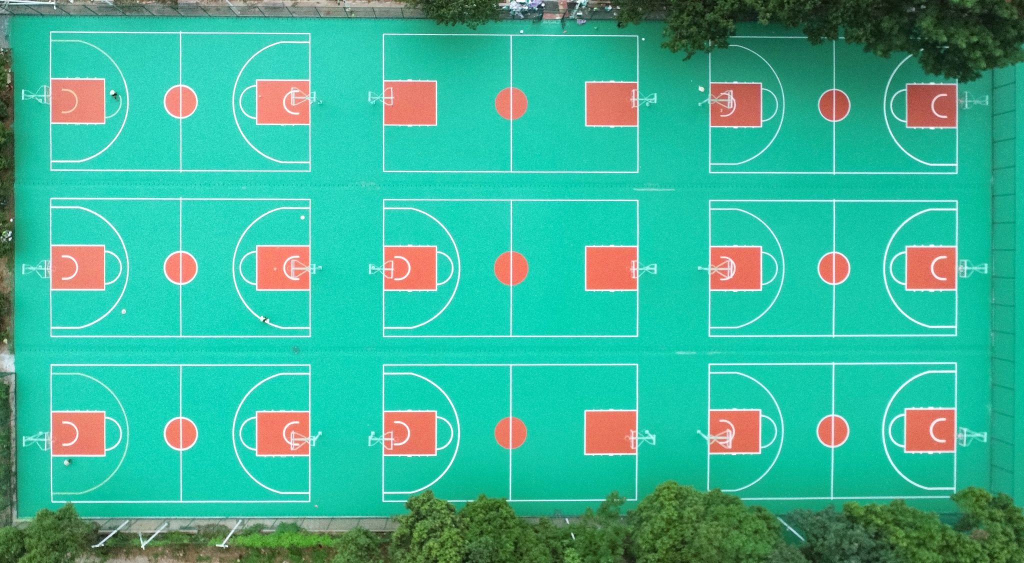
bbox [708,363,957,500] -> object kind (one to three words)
basketball court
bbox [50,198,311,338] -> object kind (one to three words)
basketball court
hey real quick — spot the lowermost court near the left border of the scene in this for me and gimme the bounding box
[51,364,310,503]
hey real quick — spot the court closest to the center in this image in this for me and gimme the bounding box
[383,199,638,337]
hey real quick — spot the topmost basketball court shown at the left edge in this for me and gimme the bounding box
[50,32,311,172]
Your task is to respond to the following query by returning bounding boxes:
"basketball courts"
[708,363,957,500]
[709,200,958,337]
[383,364,638,502]
[50,32,311,172]
[51,364,310,503]
[383,34,638,173]
[709,36,958,174]
[383,199,638,337]
[50,198,311,338]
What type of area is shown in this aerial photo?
sports ground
